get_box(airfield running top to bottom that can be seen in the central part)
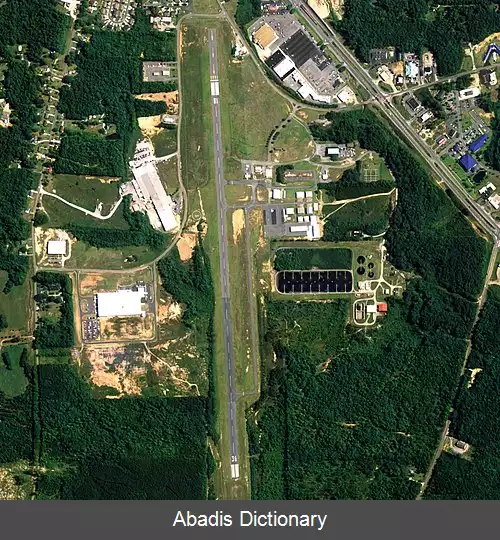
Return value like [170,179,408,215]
[209,29,318,479]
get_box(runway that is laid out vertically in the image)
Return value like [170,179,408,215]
[209,29,238,479]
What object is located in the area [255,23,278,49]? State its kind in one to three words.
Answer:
building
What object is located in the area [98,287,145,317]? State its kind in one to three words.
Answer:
building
